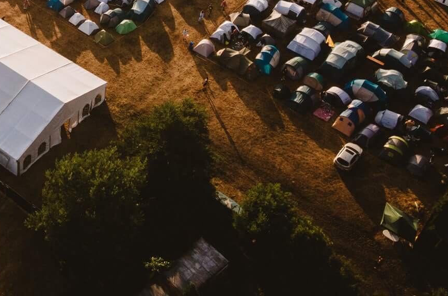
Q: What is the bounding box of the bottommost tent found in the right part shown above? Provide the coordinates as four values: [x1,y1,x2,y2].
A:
[402,156,433,177]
